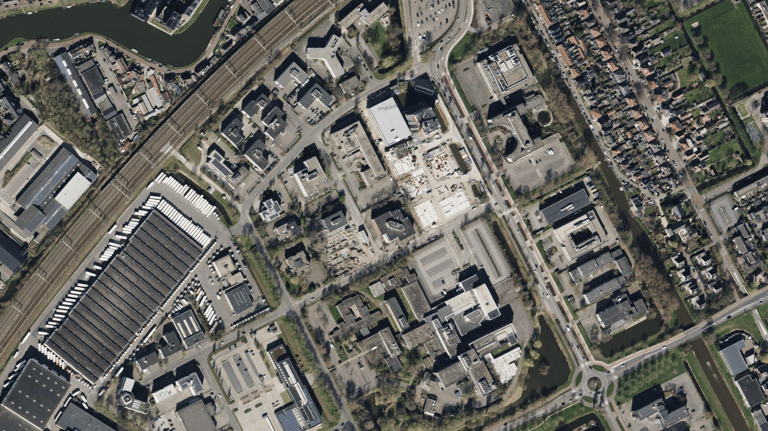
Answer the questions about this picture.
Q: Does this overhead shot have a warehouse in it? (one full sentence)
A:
Yes, there's a warehouse down there.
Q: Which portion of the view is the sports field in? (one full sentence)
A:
The sports field is located in the top right region of the scene.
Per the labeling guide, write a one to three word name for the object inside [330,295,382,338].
building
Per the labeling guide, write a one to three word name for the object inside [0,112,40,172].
shed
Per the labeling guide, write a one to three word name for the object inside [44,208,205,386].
warehouse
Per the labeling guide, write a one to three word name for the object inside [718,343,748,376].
building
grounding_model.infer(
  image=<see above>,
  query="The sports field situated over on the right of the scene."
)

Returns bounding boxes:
[686,0,768,99]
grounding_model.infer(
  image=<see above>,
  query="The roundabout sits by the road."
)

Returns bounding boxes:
[576,365,614,403]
